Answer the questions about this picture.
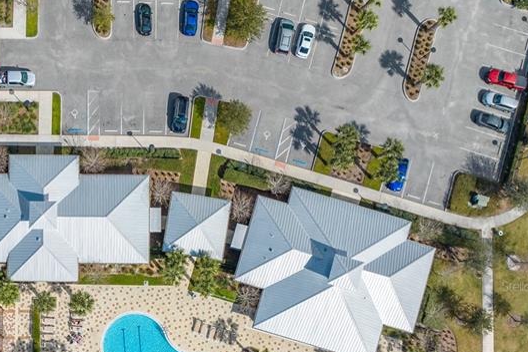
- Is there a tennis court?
No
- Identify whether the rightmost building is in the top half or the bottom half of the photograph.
bottom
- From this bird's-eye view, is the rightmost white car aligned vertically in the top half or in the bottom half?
top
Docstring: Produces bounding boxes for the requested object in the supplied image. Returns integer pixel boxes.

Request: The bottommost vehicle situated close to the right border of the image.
[470,111,508,133]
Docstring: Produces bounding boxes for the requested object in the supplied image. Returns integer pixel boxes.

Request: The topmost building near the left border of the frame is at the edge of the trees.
[0,155,149,281]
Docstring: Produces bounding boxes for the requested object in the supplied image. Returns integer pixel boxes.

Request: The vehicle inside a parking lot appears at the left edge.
[0,69,36,88]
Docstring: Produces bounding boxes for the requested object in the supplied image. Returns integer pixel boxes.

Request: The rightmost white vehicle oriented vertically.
[295,24,315,61]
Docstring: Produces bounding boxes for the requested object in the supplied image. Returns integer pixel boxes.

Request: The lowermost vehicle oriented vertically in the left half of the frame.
[172,95,190,133]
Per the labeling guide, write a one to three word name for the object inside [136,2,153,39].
car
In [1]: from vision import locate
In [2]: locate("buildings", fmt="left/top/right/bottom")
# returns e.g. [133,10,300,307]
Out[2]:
[234,187,436,352]
[0,155,149,281]
[163,191,232,260]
